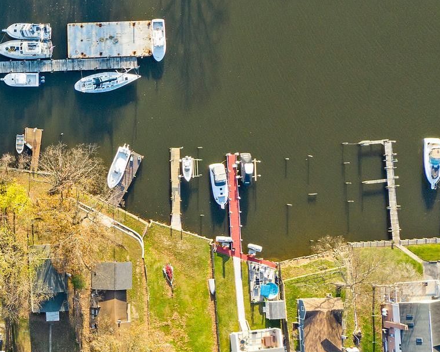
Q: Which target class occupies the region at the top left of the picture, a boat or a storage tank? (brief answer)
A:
boat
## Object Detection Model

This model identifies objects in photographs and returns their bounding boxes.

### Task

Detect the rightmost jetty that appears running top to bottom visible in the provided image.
[379,138,404,244]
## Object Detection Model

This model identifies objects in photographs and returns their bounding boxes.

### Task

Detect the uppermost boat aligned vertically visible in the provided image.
[151,20,165,62]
